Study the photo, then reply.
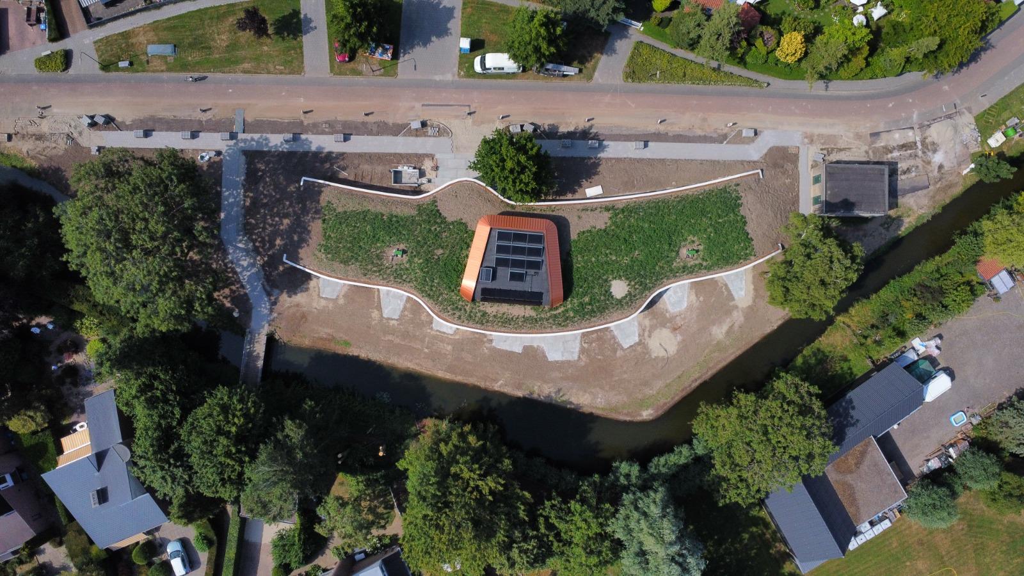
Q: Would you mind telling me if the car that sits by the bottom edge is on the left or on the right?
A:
left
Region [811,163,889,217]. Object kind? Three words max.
building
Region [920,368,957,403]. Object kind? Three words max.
camper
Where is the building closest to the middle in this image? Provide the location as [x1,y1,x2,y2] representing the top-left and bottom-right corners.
[461,216,564,308]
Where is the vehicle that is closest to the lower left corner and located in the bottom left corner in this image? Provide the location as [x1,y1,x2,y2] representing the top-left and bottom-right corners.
[168,541,193,576]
